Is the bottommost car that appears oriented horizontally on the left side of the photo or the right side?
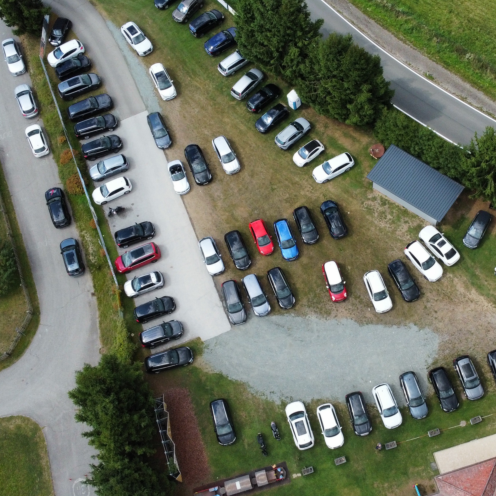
left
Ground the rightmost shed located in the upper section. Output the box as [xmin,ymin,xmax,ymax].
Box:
[366,143,465,225]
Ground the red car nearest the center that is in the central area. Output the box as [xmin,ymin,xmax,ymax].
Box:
[249,218,274,256]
